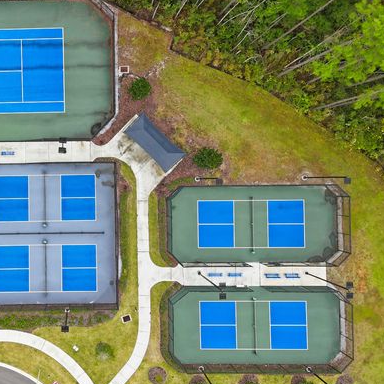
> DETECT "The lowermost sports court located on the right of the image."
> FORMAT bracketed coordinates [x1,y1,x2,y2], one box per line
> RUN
[174,286,341,365]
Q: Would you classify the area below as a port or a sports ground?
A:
sports ground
